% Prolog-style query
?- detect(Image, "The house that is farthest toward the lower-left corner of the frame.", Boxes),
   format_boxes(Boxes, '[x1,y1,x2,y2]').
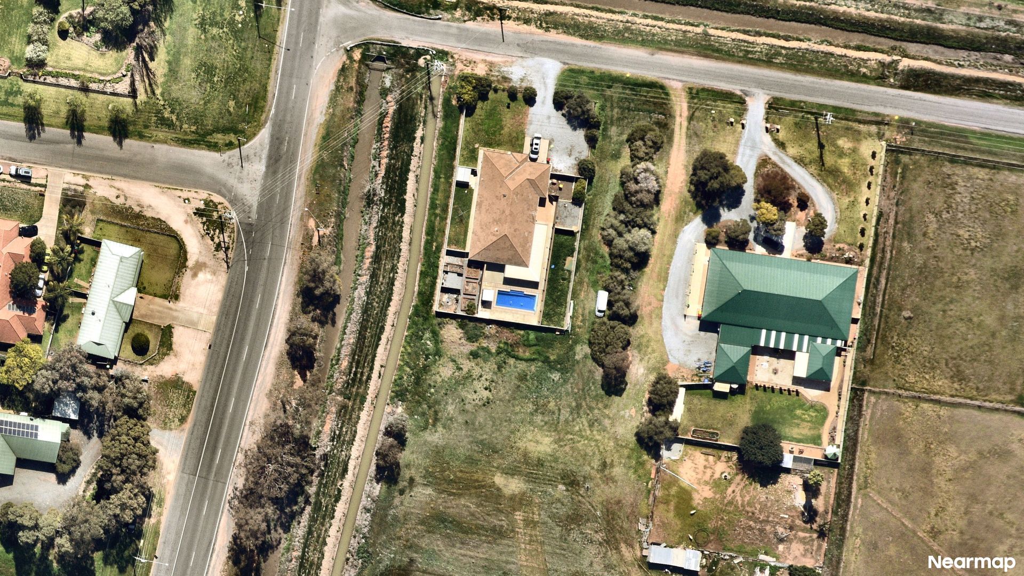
[0,414,69,475]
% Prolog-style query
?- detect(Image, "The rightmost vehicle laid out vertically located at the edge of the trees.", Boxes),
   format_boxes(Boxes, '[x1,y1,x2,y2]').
[594,291,608,317]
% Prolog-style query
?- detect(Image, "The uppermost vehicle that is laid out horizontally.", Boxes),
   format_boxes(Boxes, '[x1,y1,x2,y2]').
[9,167,34,180]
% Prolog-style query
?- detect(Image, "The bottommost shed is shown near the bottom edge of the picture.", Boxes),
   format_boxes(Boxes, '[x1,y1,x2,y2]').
[646,545,702,571]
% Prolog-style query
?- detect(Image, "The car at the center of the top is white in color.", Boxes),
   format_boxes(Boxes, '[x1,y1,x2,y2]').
[527,133,541,159]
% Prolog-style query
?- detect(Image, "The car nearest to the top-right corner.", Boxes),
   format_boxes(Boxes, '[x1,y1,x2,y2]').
[761,235,784,253]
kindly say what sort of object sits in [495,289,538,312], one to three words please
swimming pool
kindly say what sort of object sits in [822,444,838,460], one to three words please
gazebo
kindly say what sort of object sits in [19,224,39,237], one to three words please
vehicle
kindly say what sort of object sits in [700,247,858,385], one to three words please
house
